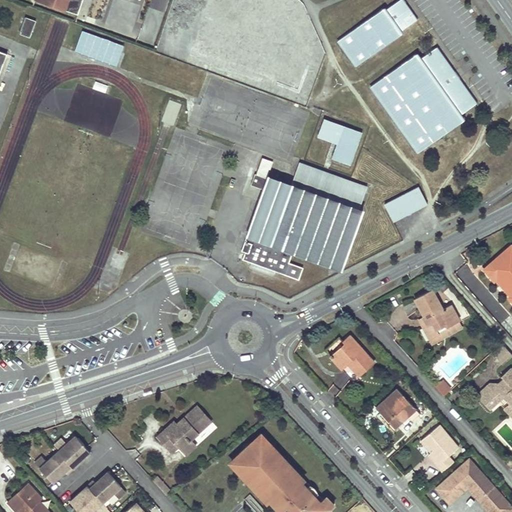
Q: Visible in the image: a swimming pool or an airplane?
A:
swimming pool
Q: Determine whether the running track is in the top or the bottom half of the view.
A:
top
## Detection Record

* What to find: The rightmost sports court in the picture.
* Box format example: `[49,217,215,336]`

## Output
[195,80,301,150]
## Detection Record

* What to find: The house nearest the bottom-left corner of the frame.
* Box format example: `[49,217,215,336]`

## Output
[8,482,52,512]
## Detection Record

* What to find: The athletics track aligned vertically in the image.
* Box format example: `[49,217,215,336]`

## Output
[0,20,150,312]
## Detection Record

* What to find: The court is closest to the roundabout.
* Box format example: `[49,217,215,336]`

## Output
[142,127,228,251]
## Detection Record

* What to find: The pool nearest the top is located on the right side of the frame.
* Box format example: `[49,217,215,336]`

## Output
[434,346,474,383]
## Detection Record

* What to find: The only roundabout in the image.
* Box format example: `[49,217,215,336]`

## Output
[206,298,284,376]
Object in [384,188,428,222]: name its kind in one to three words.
shed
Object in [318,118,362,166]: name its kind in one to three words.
building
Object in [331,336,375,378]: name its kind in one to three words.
house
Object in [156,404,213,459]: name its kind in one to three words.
house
